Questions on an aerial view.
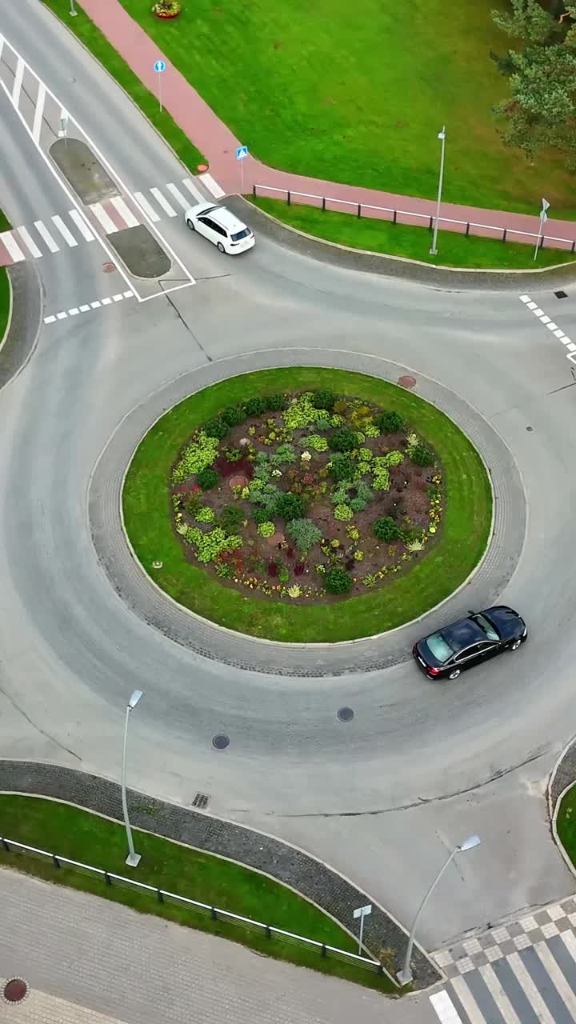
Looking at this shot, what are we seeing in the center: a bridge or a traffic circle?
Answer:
traffic circle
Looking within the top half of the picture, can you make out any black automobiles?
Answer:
No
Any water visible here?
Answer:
No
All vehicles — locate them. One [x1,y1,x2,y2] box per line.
[411,605,530,679]
[185,203,254,253]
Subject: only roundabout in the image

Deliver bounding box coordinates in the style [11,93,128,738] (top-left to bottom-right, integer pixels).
[86,347,527,678]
